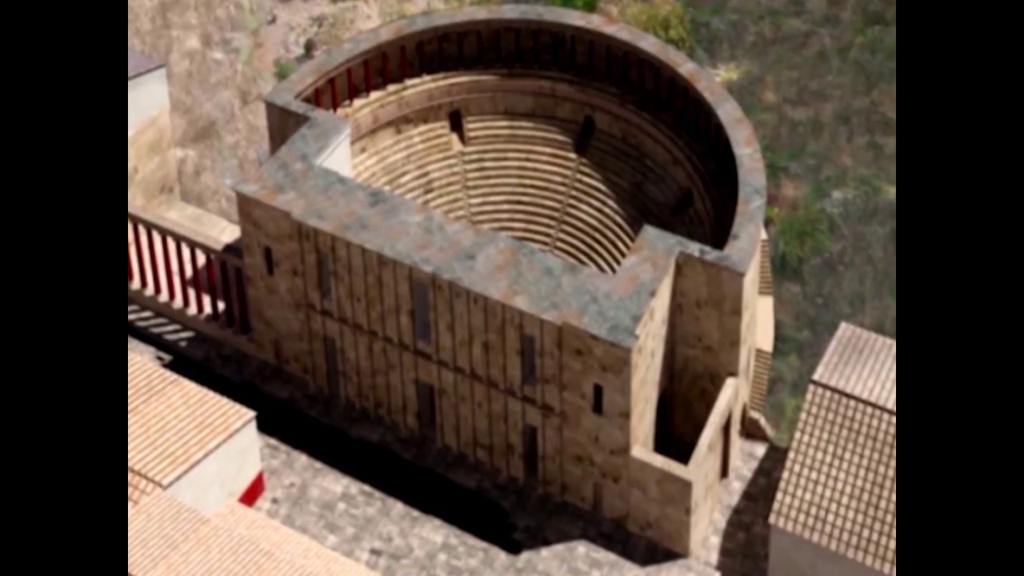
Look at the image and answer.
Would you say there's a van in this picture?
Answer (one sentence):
No, the frame has no van in it.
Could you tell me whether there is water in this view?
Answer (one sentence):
No, water can't be seen anywhere here.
